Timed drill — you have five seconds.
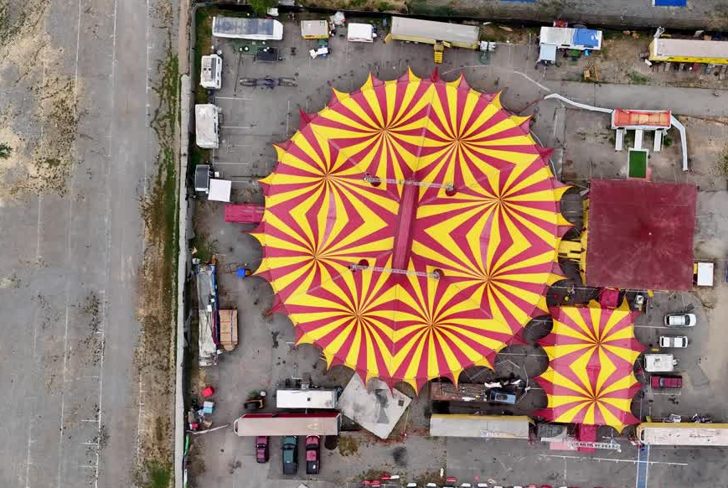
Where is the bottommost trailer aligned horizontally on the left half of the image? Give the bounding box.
[235,413,345,436]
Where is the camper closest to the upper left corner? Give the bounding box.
[201,54,228,91]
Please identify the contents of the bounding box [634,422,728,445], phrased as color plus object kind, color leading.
white trailer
